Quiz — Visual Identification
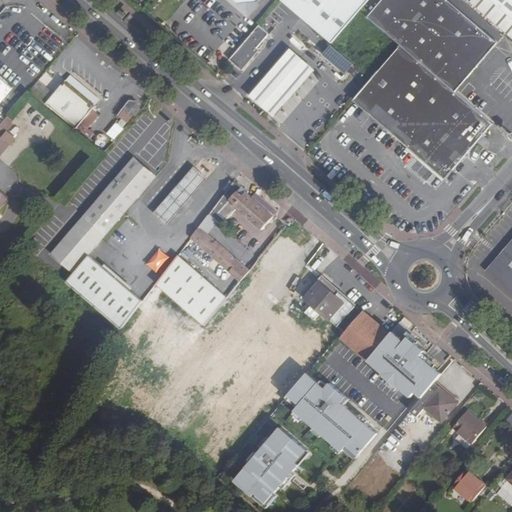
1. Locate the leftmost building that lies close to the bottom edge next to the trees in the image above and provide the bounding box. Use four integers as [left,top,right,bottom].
[232,427,308,507]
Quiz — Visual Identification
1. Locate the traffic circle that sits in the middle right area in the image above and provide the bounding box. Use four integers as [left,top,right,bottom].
[388,240,461,311]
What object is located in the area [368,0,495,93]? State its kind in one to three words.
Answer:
building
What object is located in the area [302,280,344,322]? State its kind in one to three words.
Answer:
house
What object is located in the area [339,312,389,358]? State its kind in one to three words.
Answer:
house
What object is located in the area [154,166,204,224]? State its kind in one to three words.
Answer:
building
